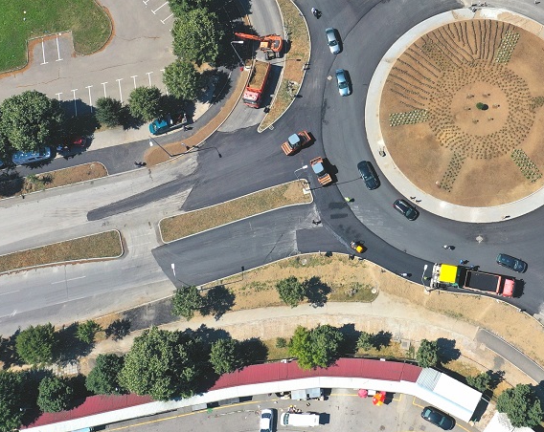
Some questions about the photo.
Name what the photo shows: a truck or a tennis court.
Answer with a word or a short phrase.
truck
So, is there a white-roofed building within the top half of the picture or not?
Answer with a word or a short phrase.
No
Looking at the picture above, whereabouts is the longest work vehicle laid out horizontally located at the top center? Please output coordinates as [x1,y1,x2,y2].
[234,37,288,58]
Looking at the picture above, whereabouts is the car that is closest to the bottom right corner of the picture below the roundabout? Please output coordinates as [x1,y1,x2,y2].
[421,405,453,432]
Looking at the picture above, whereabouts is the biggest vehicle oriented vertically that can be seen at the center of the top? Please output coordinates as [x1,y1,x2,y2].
[241,56,273,110]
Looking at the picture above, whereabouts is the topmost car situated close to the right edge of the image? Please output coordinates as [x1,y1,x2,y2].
[497,251,527,273]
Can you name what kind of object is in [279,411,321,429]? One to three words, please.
vehicle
